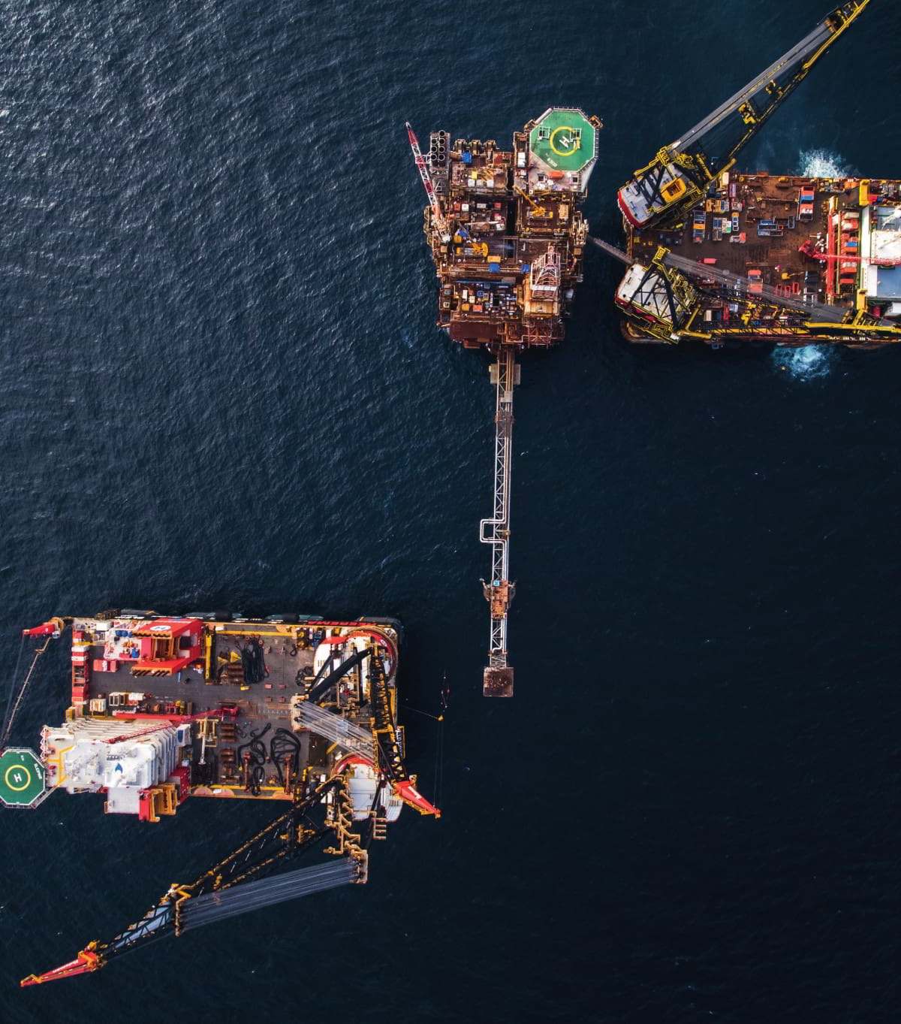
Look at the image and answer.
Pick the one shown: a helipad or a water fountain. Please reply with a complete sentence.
There is a helipad in the scene.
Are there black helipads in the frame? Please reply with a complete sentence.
No, no black helipad is visible in the scene.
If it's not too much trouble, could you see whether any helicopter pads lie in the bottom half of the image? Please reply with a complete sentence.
Yes, the scene does show a helicopter pad in the bottom half of the image.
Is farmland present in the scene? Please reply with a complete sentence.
No, farmland can't be seen anywhere here.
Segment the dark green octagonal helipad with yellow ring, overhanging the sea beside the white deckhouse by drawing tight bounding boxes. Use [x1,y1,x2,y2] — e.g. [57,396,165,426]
[0,746,62,808]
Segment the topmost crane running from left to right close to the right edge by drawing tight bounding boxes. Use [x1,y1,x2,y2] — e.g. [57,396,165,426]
[796,234,901,271]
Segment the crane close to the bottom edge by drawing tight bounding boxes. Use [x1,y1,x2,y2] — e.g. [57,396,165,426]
[19,741,402,987]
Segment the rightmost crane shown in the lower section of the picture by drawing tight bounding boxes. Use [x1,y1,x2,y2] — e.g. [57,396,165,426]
[293,628,442,817]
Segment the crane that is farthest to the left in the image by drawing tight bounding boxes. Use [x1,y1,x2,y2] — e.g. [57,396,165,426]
[1,613,95,741]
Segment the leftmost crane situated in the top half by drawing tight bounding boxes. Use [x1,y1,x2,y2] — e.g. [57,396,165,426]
[406,121,450,249]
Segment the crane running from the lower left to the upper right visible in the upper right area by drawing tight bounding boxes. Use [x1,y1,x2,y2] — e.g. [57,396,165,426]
[615,0,871,235]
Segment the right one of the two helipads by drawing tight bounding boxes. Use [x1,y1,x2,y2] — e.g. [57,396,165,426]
[526,107,599,176]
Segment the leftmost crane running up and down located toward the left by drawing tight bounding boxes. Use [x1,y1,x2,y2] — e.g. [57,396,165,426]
[205,626,219,683]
